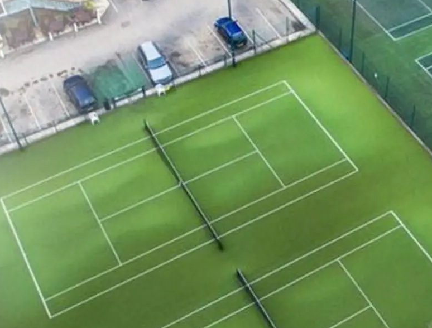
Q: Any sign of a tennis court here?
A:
Yes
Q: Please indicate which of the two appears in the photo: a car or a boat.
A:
car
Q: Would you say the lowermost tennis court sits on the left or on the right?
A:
right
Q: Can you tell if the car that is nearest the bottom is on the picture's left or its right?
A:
left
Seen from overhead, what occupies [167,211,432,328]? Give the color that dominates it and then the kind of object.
green tennis court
